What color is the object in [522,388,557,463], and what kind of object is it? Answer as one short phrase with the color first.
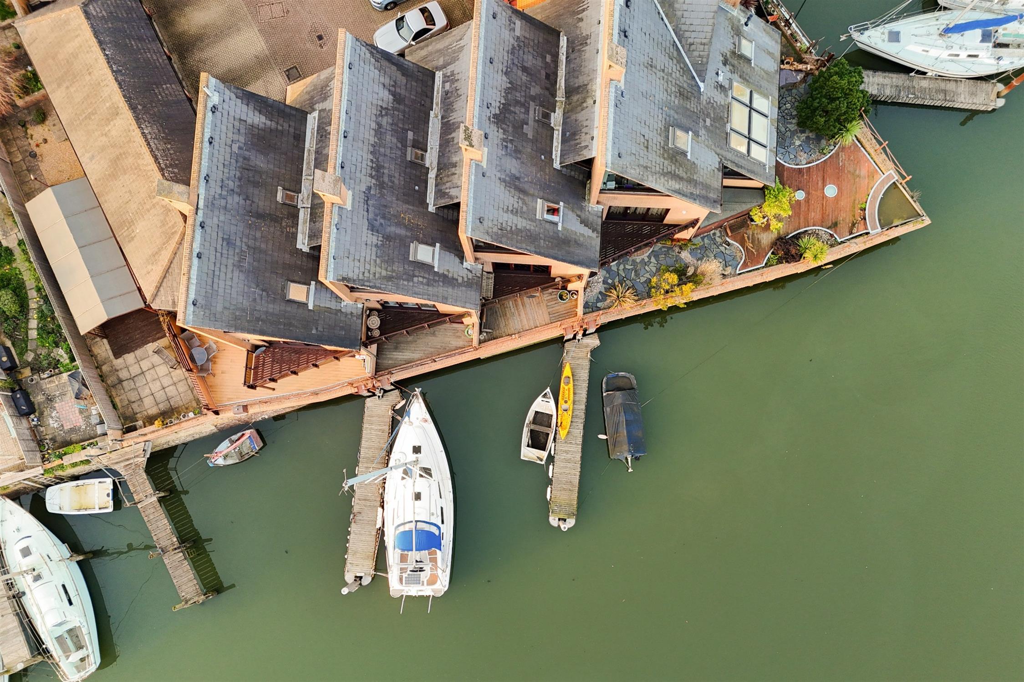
white boat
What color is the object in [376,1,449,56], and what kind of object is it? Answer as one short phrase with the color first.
white car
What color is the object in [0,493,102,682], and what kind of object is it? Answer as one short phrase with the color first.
white boat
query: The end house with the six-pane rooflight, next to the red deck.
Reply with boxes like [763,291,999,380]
[532,0,781,273]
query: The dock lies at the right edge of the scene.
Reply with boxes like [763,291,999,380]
[855,69,1004,117]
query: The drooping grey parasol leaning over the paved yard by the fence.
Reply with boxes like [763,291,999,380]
[68,371,91,400]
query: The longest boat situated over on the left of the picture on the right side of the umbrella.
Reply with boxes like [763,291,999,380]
[336,385,453,618]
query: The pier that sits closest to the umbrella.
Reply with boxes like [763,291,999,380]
[86,442,218,612]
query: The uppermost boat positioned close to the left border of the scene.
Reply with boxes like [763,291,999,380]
[44,480,120,513]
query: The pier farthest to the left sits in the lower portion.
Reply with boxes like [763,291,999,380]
[0,585,43,678]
